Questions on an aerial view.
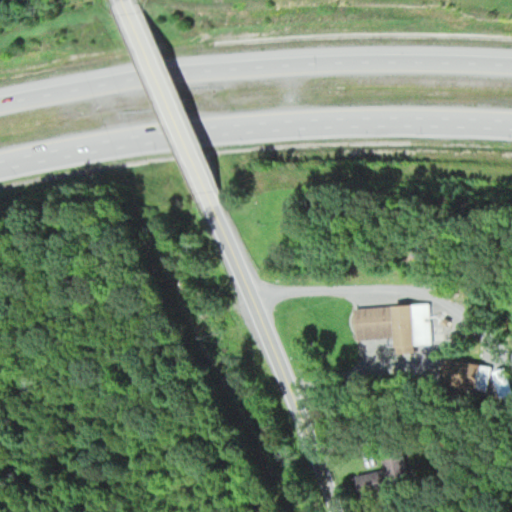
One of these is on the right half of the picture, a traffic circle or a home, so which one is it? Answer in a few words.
home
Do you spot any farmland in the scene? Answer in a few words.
No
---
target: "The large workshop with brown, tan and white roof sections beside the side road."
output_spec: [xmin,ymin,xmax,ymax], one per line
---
[354,303,433,354]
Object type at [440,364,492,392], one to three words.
house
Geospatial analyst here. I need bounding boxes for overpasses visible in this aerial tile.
[108,0,224,212]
